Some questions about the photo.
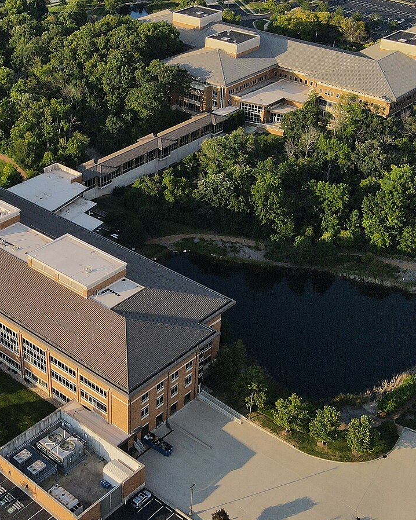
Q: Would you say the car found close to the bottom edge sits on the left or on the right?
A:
left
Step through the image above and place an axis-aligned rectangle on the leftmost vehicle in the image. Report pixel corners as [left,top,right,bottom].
[128,489,152,509]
